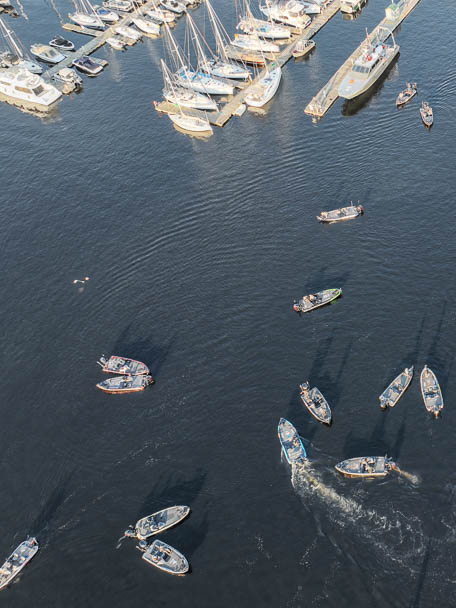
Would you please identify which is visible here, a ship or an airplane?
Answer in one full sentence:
There is a ship in the scene.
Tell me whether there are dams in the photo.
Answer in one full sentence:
No, I can't see a single dam in this photo.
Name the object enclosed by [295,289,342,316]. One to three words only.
boat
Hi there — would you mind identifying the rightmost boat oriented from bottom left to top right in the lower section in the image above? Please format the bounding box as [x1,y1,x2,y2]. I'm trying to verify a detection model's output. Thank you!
[378,365,414,408]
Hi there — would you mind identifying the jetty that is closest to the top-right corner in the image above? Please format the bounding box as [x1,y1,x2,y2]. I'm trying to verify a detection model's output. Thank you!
[305,0,418,114]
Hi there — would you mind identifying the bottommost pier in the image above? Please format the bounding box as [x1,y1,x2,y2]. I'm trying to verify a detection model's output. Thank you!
[152,103,217,124]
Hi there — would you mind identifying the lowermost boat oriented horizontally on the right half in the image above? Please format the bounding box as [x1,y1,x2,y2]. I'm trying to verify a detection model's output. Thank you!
[335,457,394,477]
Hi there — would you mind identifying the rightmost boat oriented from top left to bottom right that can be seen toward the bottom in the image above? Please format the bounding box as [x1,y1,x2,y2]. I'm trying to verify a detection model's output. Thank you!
[301,386,332,423]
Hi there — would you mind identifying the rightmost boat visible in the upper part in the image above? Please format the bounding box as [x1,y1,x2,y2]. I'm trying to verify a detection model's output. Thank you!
[419,100,434,127]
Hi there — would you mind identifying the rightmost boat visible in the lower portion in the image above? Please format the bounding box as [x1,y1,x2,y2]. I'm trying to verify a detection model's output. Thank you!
[420,367,444,415]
